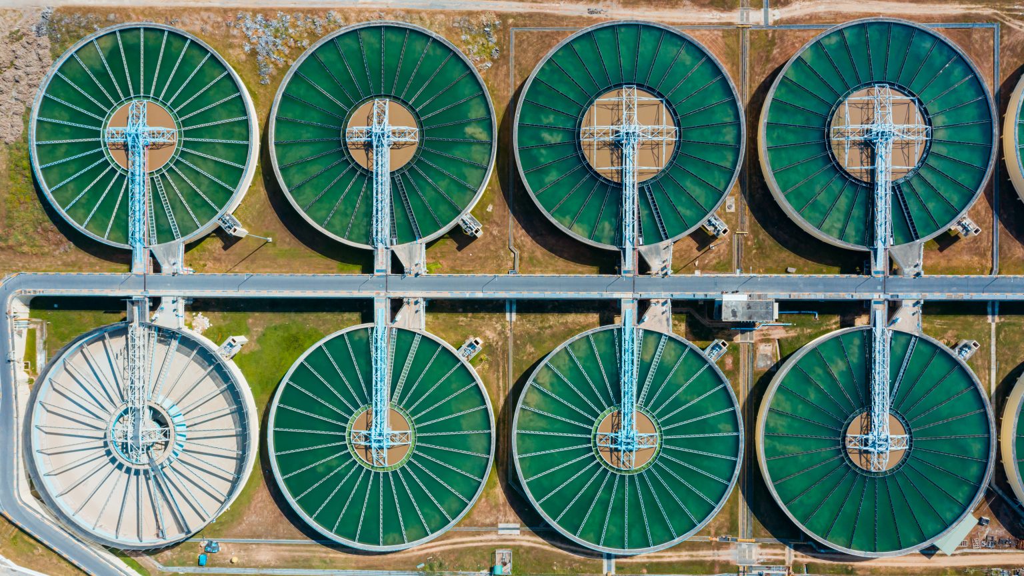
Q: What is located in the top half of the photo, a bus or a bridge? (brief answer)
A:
bridge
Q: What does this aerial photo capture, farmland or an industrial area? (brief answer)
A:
industrial area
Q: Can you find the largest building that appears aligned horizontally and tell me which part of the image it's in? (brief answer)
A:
right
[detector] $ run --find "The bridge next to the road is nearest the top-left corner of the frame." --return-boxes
[102,98,177,274]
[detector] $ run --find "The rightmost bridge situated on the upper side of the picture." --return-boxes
[830,82,934,277]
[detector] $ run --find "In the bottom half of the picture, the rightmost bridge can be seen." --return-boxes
[847,305,913,474]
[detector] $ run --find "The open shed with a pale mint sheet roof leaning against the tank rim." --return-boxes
[935,513,979,556]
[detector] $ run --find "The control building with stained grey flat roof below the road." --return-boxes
[714,295,778,323]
